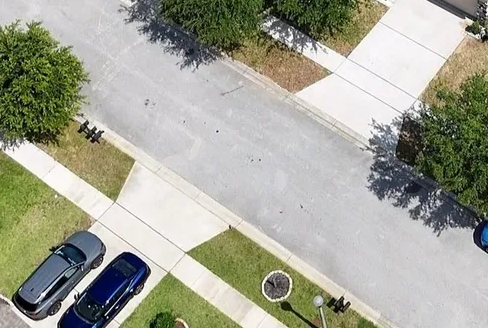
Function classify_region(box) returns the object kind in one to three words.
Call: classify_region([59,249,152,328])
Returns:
car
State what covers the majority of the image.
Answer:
paved ground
